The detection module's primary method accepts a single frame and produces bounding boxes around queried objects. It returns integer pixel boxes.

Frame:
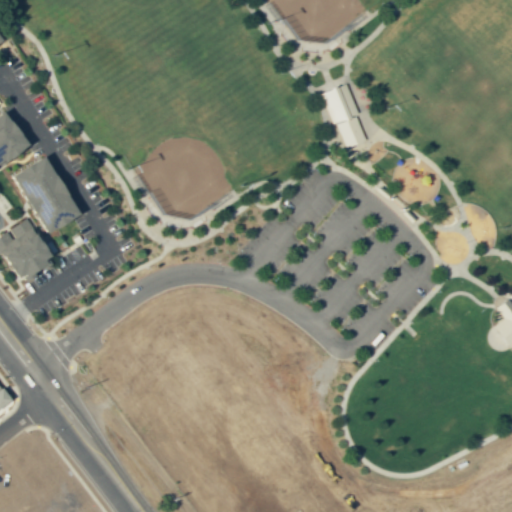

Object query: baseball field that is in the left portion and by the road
[18,0,328,218]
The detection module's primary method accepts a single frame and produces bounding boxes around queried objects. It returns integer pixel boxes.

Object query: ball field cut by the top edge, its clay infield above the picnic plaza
[270,0,381,42]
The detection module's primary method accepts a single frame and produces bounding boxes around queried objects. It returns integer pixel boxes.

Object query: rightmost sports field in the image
[349,0,512,255]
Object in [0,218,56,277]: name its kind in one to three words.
building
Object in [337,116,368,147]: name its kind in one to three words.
building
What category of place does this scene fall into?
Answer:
sports ground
